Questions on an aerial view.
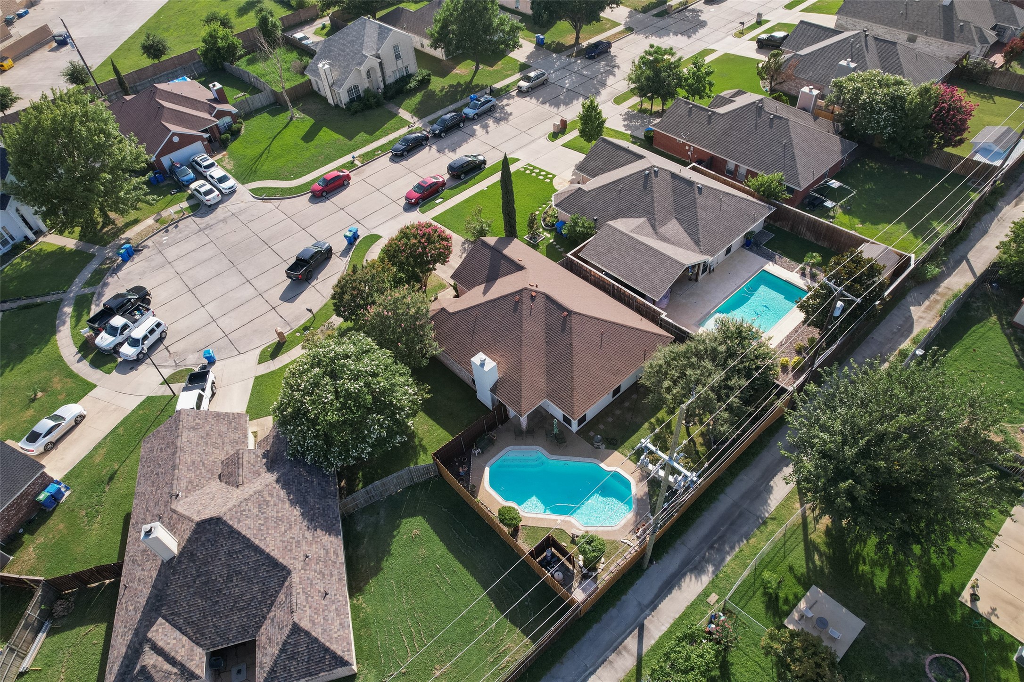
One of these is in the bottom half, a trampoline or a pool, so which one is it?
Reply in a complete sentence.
Visible in the bottom half is a pool.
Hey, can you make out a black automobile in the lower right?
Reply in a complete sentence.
No, I see no black automobile in the lower right.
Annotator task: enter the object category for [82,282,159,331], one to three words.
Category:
truck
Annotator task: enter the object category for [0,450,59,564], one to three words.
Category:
house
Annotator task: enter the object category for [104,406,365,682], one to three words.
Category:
house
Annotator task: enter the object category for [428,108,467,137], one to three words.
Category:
car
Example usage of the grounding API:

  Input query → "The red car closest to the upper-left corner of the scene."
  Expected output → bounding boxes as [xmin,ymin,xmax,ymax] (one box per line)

[308,168,353,197]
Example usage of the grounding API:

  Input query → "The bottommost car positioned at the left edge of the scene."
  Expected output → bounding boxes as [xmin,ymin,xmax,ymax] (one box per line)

[15,401,89,459]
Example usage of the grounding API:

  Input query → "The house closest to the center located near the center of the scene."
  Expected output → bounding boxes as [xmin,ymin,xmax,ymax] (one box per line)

[414,236,668,434]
